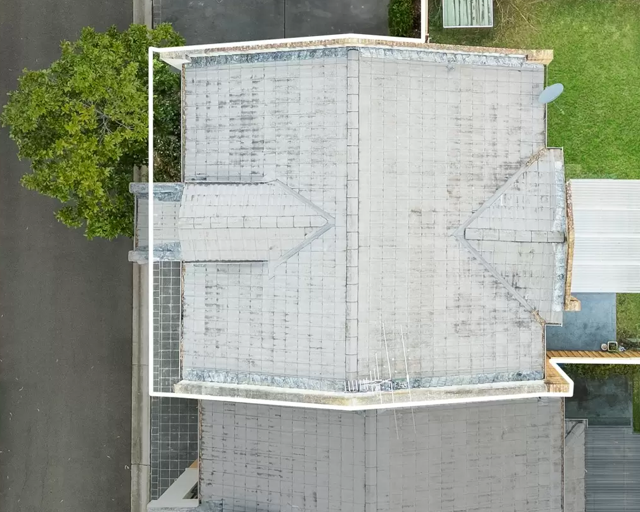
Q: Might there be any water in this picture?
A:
No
